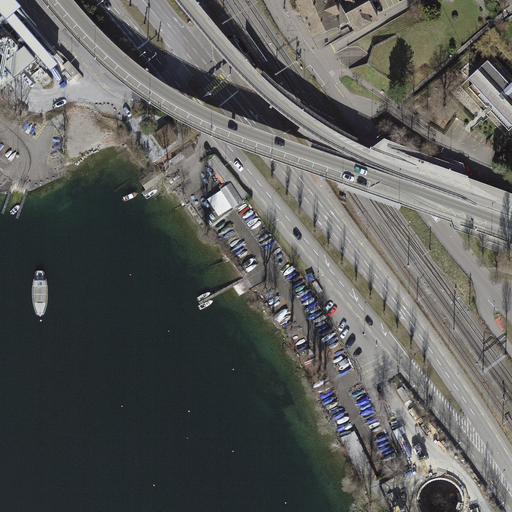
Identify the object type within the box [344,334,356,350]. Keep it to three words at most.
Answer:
vehicle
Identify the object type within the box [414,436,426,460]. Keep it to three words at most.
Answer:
vehicle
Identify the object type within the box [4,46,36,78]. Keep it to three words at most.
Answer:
building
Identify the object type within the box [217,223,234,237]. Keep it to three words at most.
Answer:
boat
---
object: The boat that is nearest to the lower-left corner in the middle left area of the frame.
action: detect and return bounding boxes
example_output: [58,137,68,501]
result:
[32,270,48,316]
